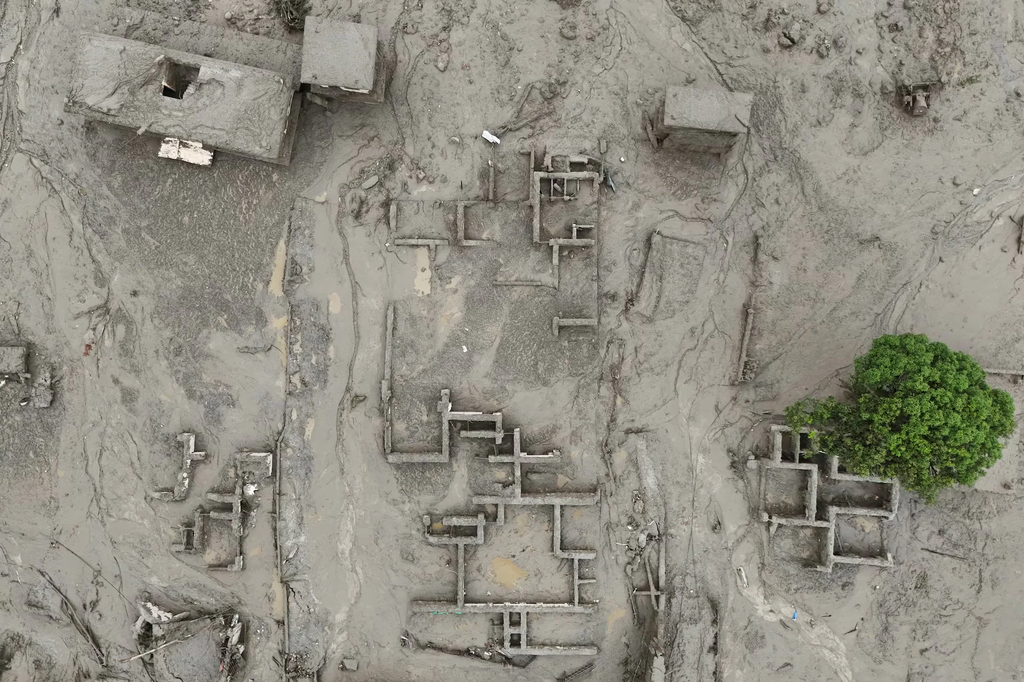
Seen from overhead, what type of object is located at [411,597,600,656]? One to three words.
house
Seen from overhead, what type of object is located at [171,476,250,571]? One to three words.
house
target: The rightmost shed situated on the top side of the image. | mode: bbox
[651,85,754,157]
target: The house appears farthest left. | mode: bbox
[0,346,38,386]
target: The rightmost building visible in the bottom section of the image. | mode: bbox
[755,423,899,572]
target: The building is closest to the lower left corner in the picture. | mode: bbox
[127,601,248,682]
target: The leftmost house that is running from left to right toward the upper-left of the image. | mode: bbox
[60,33,310,166]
